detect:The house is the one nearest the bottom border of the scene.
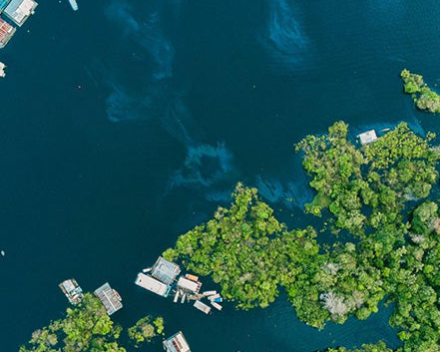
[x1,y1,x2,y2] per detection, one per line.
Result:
[165,329,190,352]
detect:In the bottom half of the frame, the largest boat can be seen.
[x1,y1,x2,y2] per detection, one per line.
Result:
[135,271,172,297]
